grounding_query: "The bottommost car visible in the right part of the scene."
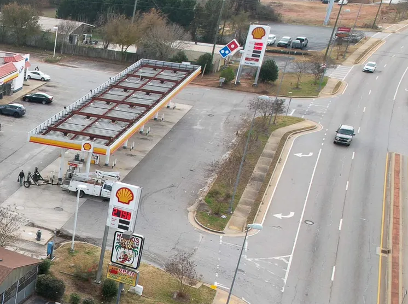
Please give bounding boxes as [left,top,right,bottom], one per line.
[335,122,357,144]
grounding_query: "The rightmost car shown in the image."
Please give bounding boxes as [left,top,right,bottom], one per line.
[362,60,377,72]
